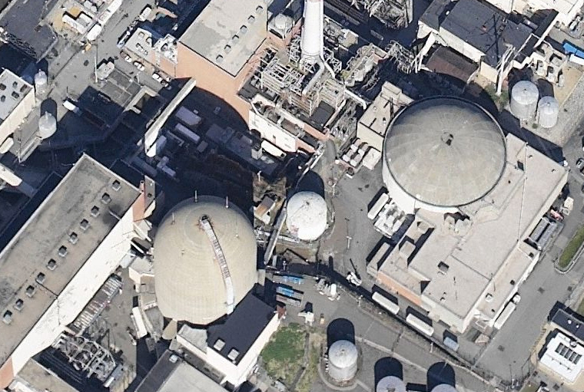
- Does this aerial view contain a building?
Yes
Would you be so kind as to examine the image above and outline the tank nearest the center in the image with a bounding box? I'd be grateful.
[284,194,329,245]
